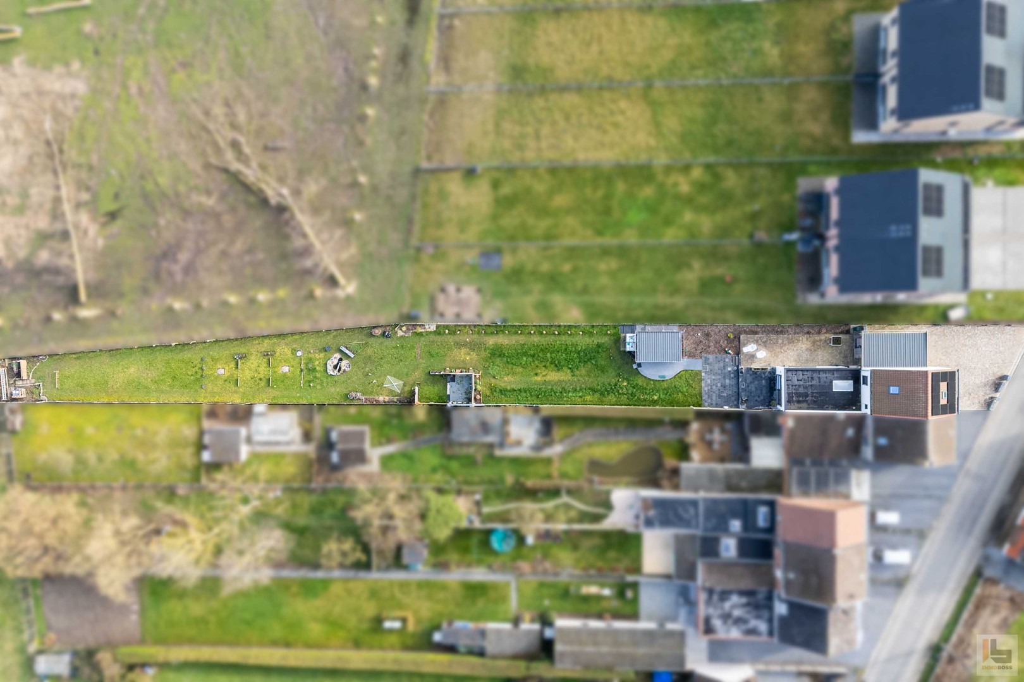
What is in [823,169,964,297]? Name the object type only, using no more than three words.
house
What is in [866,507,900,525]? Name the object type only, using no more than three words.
vehicle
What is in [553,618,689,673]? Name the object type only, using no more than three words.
barn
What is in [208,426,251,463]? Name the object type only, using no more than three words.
shed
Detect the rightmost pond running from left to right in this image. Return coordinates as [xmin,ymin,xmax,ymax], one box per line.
[588,445,662,476]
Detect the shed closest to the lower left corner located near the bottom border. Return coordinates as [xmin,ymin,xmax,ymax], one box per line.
[35,648,80,675]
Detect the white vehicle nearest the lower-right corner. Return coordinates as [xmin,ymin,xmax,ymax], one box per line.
[867,544,911,563]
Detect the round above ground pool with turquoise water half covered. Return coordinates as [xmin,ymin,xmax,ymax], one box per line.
[489,528,515,553]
